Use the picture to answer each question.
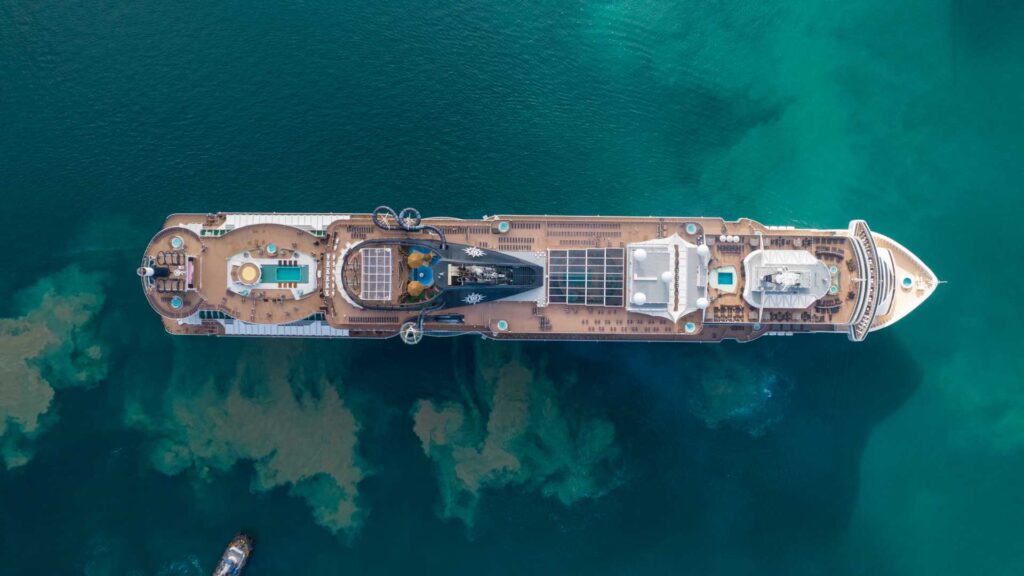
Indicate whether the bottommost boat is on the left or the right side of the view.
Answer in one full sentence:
You can find the bottommost boat on the left side of the picture.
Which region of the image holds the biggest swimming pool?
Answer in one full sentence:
The biggest swimming pool sits in the left section of the image.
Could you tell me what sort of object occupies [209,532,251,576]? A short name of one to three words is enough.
boat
